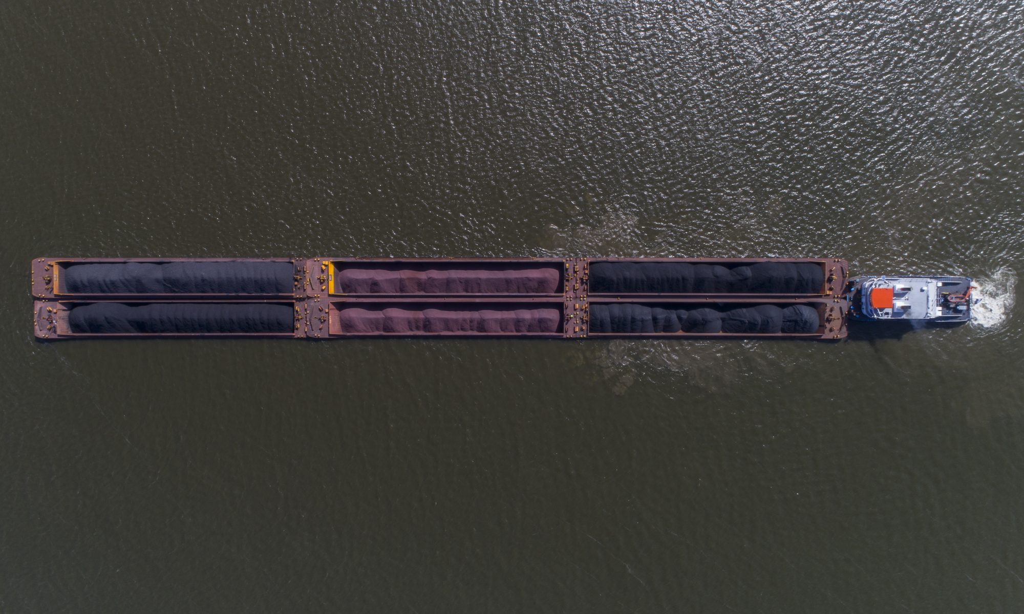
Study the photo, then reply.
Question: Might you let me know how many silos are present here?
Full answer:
Not a single silo can be seen.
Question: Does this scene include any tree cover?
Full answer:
No, no tree cover is visible.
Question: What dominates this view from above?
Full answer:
What you mostly see from above here is water.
